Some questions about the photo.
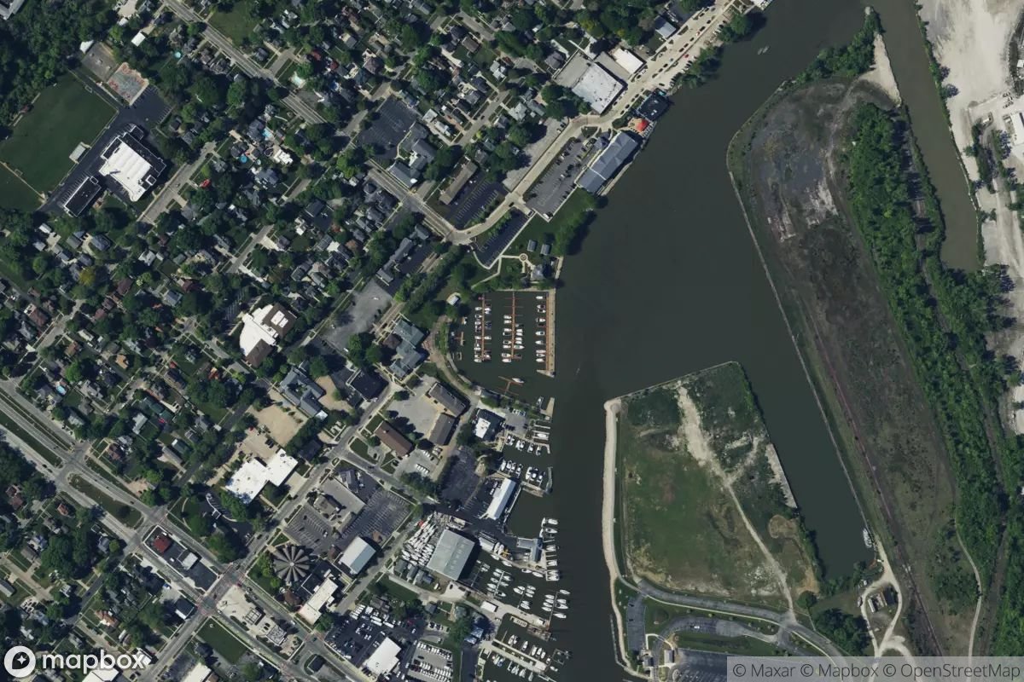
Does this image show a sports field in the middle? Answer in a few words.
No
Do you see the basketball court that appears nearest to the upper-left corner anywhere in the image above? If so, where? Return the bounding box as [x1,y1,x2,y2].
[82,42,119,81]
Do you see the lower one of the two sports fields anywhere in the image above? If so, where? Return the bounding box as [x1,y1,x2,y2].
[0,166,43,211]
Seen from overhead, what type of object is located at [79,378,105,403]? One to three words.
house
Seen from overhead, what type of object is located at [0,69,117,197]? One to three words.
sports field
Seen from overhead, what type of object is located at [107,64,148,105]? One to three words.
sports court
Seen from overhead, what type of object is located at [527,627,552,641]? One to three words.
ship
